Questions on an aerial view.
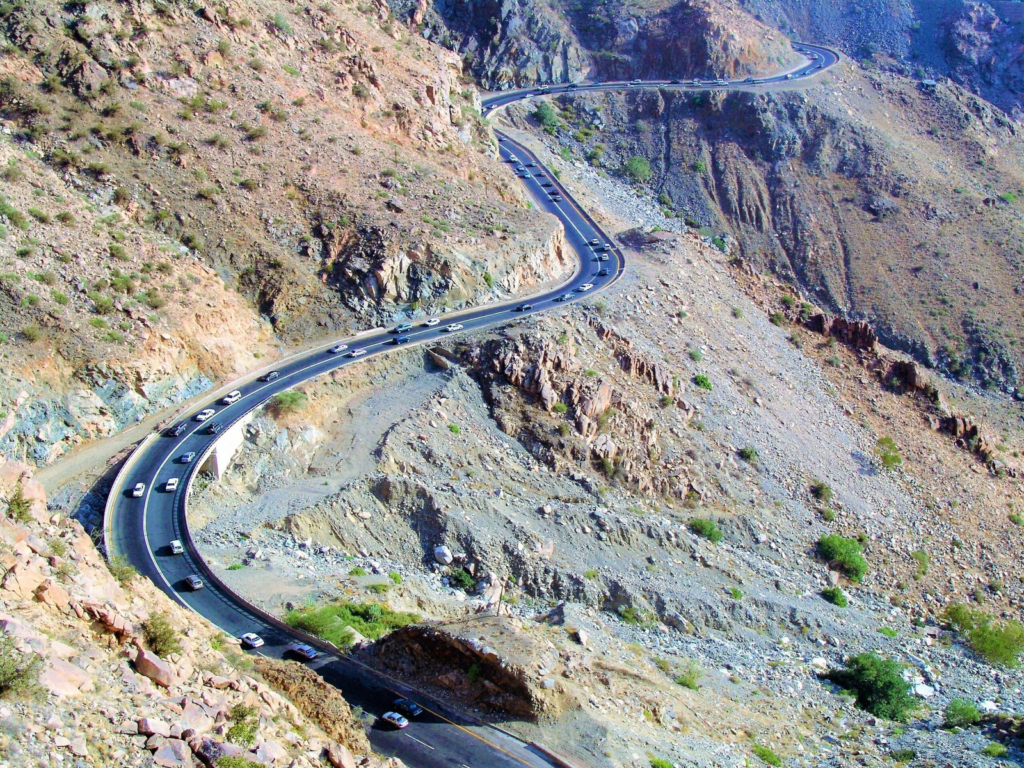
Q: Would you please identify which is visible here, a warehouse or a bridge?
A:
bridge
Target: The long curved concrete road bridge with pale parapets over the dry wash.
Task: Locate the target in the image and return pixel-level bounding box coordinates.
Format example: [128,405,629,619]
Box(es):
[99,361,350,620]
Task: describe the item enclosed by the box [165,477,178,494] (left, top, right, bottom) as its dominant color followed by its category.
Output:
white vehicle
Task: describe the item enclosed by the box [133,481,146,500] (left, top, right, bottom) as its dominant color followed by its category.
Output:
white vehicle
